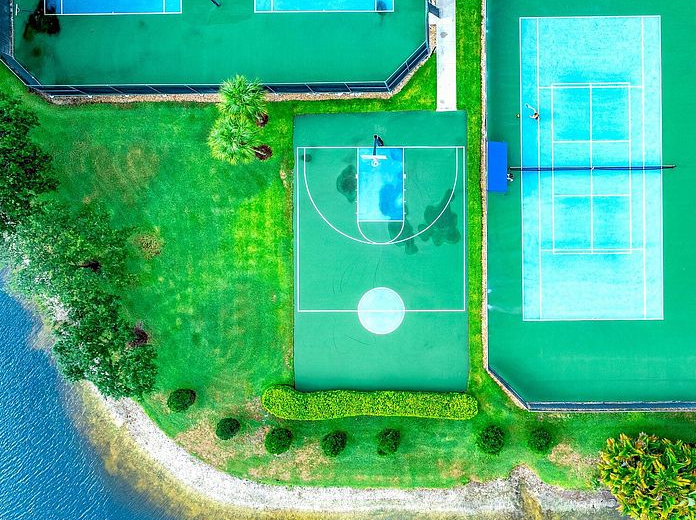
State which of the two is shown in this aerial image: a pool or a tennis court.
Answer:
tennis court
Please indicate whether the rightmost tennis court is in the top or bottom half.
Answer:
top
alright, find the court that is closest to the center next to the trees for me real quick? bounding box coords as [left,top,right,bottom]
[294,111,470,393]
